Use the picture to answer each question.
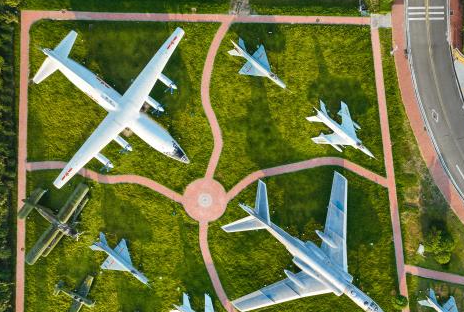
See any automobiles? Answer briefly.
No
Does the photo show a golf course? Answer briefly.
No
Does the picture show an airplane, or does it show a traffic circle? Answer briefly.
airplane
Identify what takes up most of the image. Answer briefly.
grass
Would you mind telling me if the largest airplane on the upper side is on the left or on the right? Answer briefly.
left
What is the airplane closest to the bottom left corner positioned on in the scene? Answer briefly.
grass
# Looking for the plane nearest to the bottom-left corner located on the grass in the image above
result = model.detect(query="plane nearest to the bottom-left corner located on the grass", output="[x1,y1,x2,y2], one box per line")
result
[53,274,95,312]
